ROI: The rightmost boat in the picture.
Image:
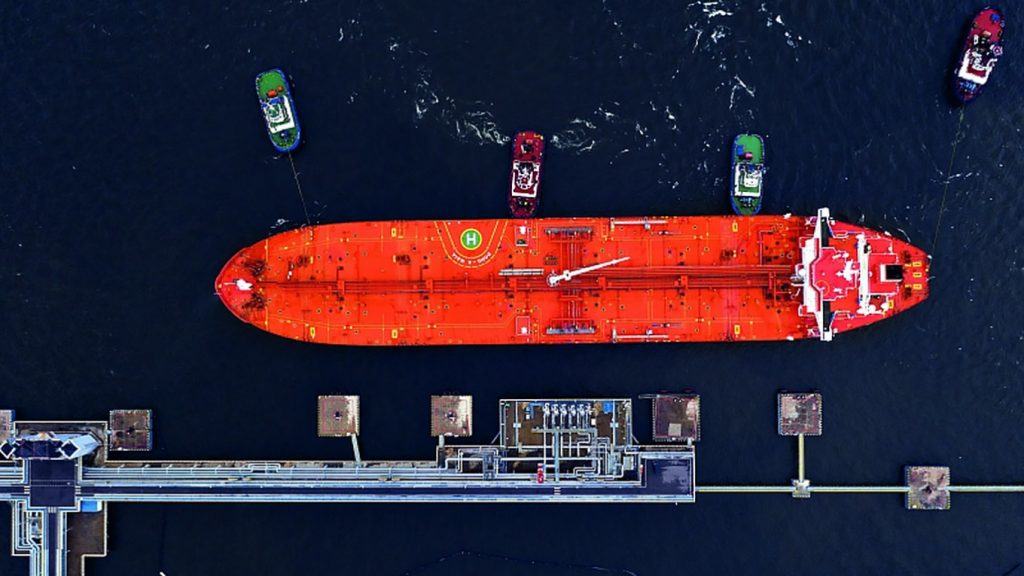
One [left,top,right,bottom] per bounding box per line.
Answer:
[948,5,1003,104]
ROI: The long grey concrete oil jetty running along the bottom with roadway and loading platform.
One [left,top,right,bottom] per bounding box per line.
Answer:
[0,399,695,576]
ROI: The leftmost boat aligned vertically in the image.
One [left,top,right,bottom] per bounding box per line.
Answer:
[256,68,302,155]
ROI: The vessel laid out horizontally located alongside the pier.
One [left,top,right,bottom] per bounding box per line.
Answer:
[212,207,932,346]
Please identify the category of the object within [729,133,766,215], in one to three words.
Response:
boat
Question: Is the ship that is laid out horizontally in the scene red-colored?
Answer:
Yes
